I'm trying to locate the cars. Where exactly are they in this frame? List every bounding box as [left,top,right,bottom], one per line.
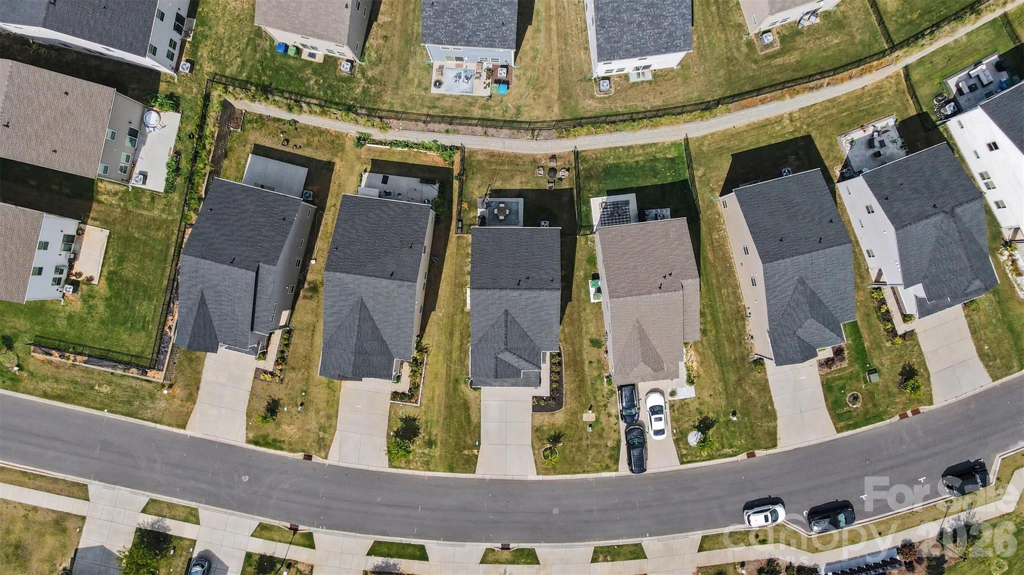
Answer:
[739,501,785,527]
[624,423,650,473]
[189,550,216,575]
[804,506,854,532]
[936,466,989,499]
[643,388,667,440]
[616,381,641,428]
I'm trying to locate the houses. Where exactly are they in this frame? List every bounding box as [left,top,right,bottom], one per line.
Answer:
[0,0,190,73]
[172,176,317,361]
[469,227,563,384]
[0,60,146,185]
[719,167,857,366]
[421,0,518,67]
[594,216,700,383]
[0,204,80,303]
[734,0,829,35]
[318,192,435,383]
[584,0,693,79]
[836,141,1001,320]
[255,0,372,63]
